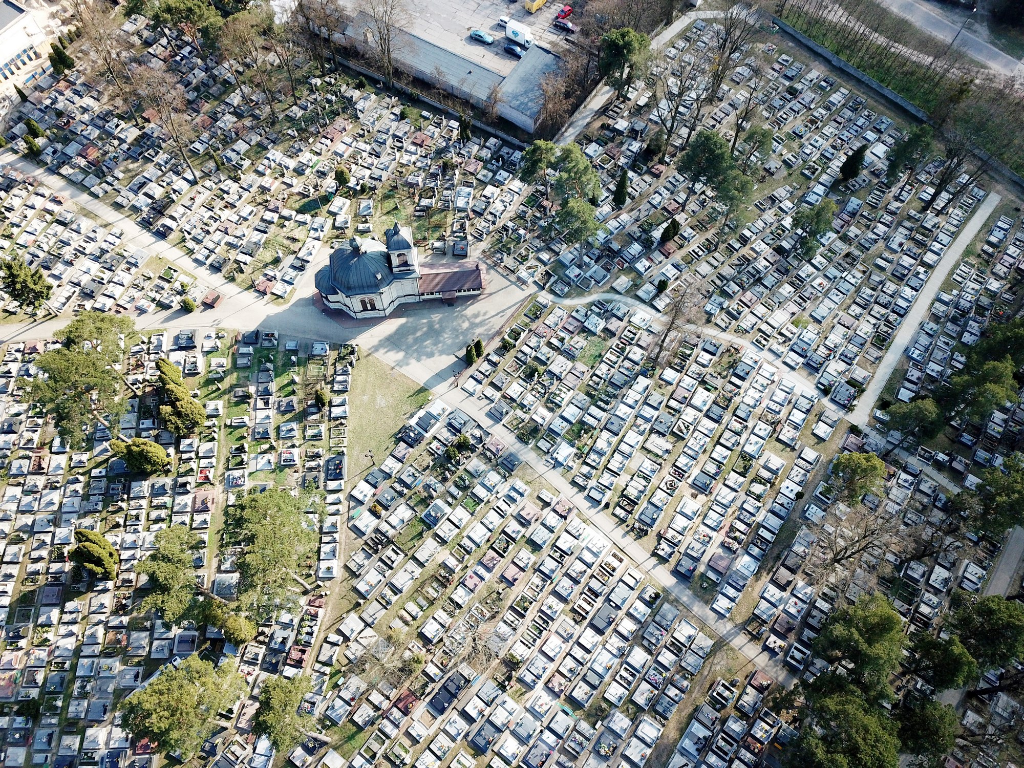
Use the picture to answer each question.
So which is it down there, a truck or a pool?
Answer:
truck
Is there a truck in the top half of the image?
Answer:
Yes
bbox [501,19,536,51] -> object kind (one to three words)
truck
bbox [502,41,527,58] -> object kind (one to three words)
car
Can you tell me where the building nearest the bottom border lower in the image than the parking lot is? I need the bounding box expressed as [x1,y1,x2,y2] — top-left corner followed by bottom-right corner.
[315,211,482,319]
